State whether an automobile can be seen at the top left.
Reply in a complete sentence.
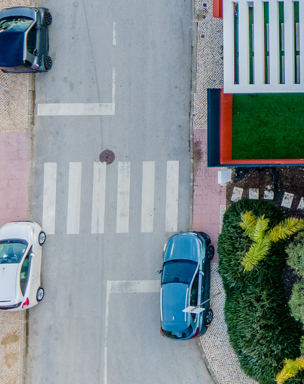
Yes, an automobile can be seen at the top left.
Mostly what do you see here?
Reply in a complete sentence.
The largest share of the image is taken up by paved ground.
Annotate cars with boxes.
[0,4,61,74]
[0,217,50,313]
[146,228,211,341]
